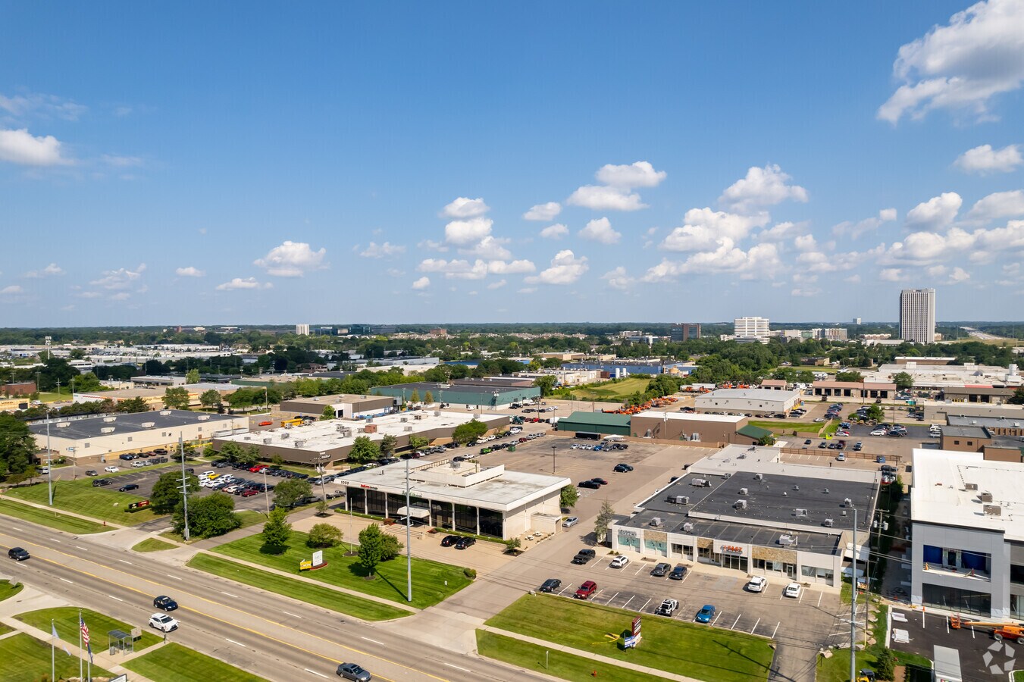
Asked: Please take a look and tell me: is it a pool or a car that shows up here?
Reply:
car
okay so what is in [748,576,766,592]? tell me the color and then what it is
white car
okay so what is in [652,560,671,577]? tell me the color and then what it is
gray car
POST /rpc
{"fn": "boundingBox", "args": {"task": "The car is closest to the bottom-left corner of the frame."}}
[8,546,29,560]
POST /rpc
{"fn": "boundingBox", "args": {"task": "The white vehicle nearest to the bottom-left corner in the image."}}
[149,611,178,632]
